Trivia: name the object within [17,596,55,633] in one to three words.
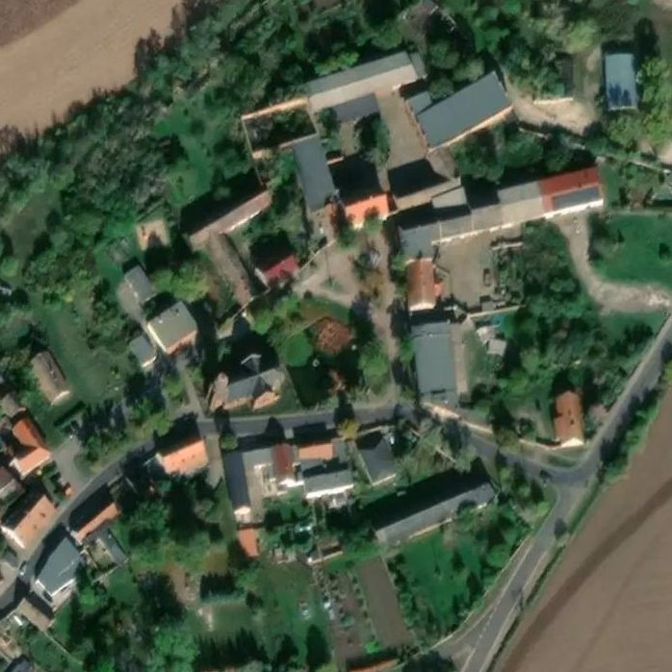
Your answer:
shed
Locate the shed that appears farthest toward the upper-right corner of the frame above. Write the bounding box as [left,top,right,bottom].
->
[607,56,637,112]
